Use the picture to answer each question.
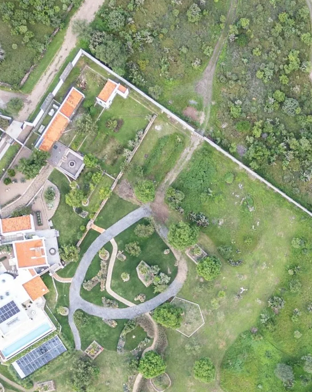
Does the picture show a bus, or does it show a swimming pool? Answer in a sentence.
There is a swimming pool in the scene.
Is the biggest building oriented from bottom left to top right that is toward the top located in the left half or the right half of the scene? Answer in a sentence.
The biggest building oriented from bottom left to top right that is toward the top sits on the left side.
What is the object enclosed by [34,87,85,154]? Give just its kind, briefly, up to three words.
building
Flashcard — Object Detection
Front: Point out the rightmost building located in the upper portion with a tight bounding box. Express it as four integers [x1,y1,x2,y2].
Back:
[95,79,128,107]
